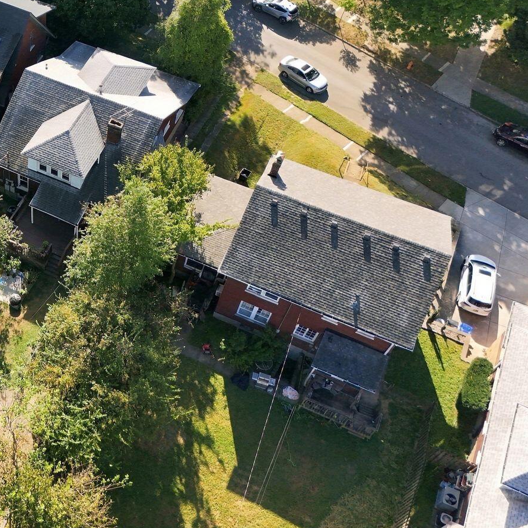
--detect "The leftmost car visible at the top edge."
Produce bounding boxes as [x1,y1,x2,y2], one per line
[253,0,305,22]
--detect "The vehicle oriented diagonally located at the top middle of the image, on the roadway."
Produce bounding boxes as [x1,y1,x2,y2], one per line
[279,52,334,93]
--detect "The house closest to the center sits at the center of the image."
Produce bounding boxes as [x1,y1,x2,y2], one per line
[177,149,452,409]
